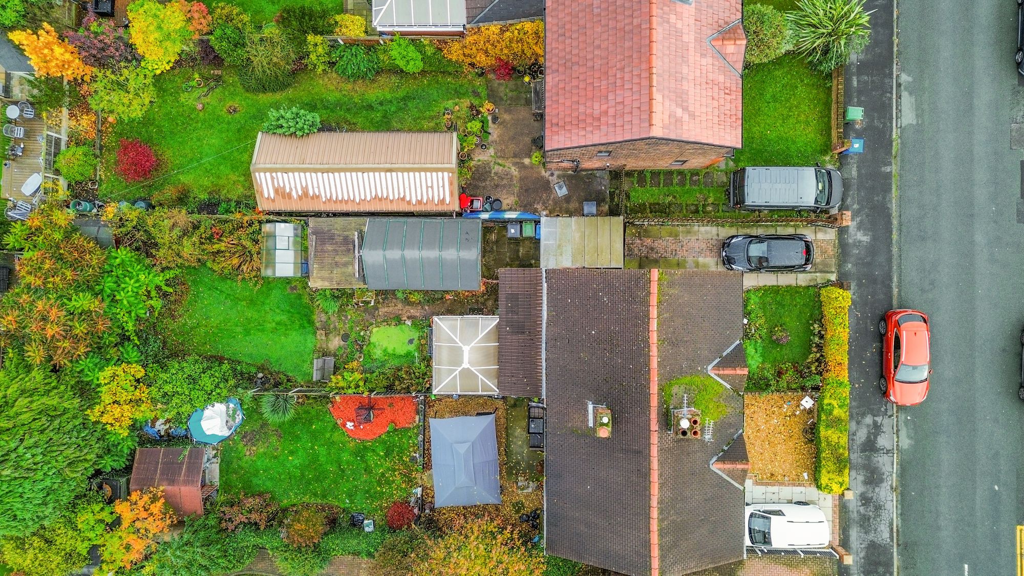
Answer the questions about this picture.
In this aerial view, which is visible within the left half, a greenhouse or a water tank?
greenhouse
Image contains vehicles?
Yes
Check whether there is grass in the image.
Yes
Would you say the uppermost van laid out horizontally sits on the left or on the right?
right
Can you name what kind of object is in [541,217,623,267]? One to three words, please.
building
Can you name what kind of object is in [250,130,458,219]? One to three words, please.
building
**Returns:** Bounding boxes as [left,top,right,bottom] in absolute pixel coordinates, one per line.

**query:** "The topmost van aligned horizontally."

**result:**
[727,161,844,217]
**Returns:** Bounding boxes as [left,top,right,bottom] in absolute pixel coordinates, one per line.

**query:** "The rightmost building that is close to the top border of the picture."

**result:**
[542,0,750,175]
